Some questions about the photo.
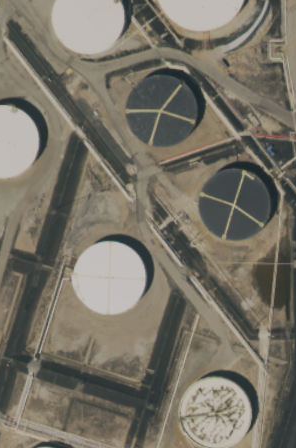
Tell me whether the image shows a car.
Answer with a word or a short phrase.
No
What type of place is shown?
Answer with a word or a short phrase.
industrial area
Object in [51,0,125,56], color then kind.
white storage tank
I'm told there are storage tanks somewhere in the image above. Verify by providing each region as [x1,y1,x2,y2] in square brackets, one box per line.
[197,168,270,242]
[0,104,40,180]
[51,0,125,56]
[156,0,244,33]
[124,74,198,148]
[178,376,252,448]
[72,240,146,316]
